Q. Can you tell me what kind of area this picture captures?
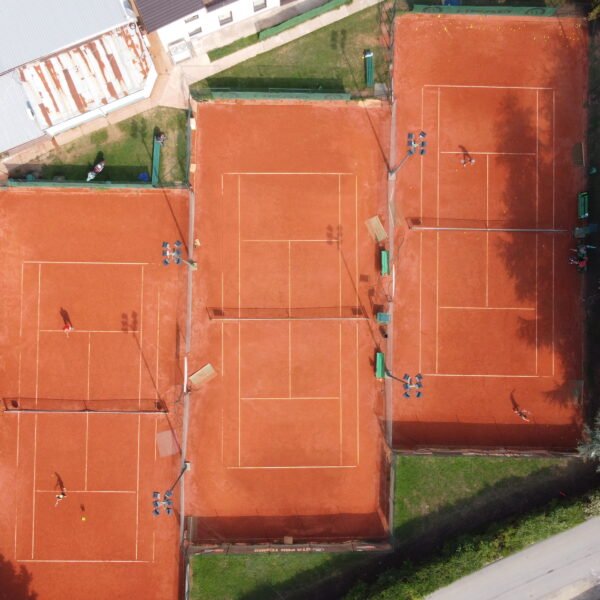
sports ground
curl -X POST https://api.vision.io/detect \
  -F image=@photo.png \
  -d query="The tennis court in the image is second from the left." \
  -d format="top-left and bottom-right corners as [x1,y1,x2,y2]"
[187,100,393,547]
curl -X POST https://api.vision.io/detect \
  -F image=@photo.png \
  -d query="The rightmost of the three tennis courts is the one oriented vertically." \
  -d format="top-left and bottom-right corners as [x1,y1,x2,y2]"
[393,15,588,457]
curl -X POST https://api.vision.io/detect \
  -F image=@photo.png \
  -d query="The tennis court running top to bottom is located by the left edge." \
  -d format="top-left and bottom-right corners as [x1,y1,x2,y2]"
[0,188,191,600]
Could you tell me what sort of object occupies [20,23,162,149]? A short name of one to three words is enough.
shed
